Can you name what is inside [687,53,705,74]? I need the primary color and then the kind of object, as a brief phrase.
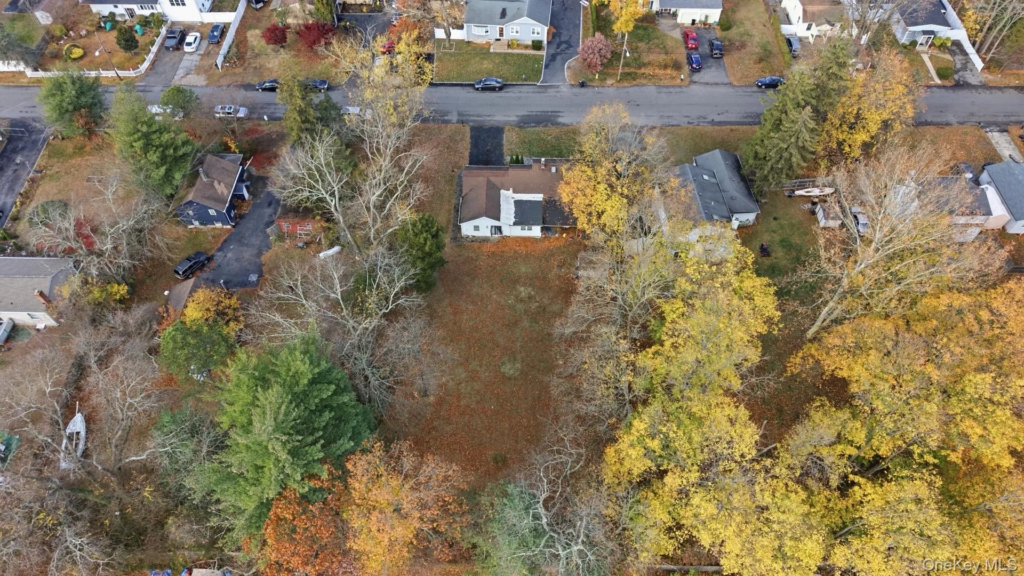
blue car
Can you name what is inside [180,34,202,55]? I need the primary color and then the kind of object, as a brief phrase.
white car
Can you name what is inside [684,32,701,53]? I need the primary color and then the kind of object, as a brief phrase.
red car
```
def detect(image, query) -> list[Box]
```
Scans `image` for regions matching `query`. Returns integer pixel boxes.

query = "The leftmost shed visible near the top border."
[28,4,56,26]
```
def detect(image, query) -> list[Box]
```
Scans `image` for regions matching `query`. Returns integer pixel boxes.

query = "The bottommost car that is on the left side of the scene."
[169,255,212,282]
